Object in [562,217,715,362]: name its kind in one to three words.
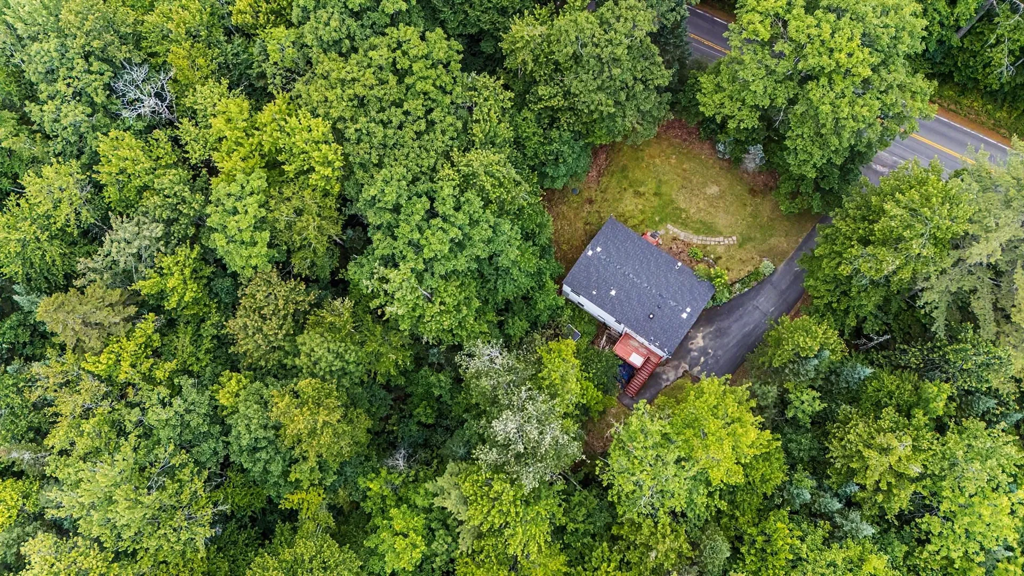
house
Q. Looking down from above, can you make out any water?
No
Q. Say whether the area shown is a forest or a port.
forest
